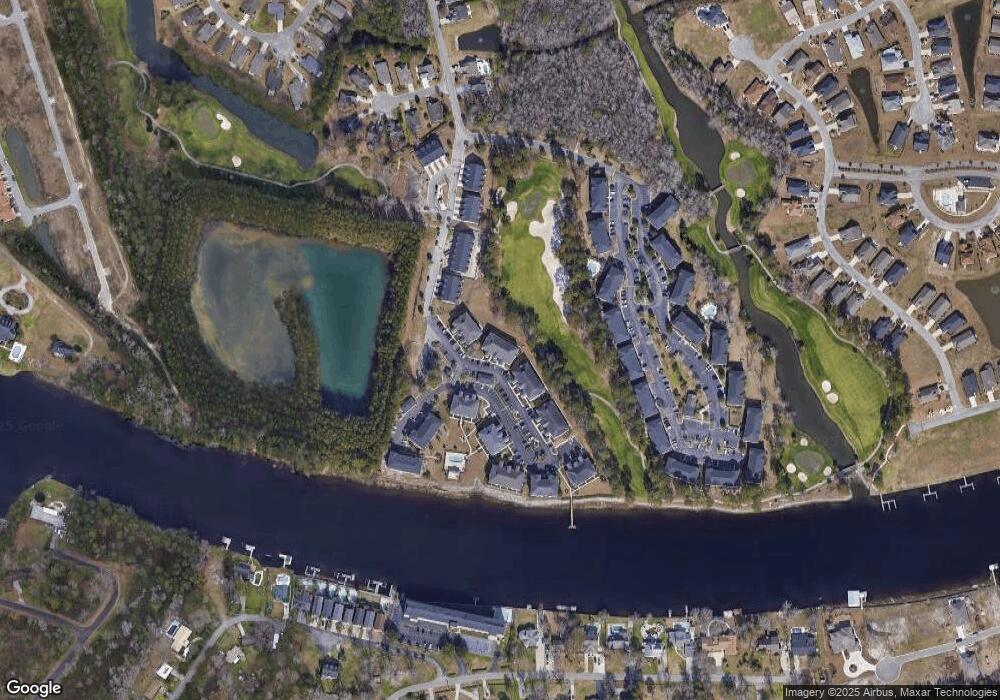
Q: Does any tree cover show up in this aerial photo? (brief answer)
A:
Yes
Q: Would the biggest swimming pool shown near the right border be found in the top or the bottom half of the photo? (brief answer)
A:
top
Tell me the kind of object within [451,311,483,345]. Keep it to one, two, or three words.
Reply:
building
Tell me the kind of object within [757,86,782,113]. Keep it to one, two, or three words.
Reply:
house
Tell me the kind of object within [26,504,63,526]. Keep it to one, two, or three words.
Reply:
house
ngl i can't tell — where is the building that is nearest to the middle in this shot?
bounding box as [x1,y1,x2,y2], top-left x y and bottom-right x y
[480,332,520,367]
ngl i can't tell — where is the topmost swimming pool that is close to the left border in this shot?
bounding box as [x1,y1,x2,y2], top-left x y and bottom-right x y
[9,343,24,361]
